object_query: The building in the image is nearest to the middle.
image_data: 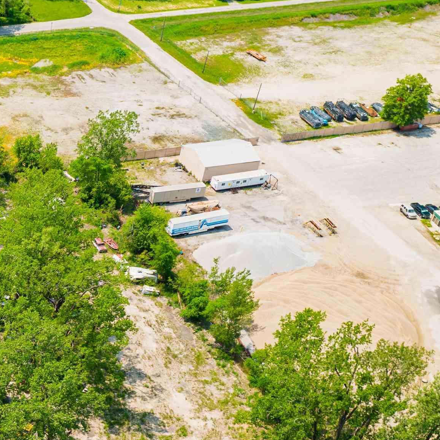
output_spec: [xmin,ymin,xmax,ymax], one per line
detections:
[179,137,267,179]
